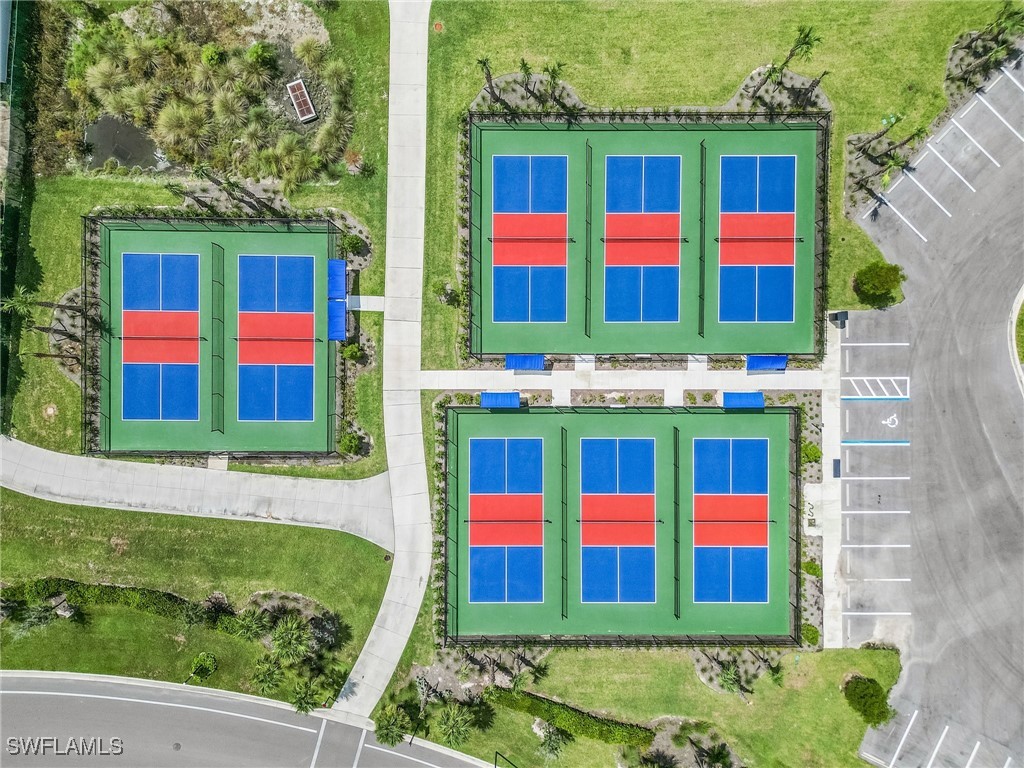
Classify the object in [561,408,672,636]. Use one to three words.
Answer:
sports court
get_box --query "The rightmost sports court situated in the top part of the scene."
[697,123,816,352]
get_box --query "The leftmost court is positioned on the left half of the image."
[99,222,218,451]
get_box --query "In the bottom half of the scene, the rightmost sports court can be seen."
[671,408,790,636]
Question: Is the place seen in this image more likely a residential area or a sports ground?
sports ground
